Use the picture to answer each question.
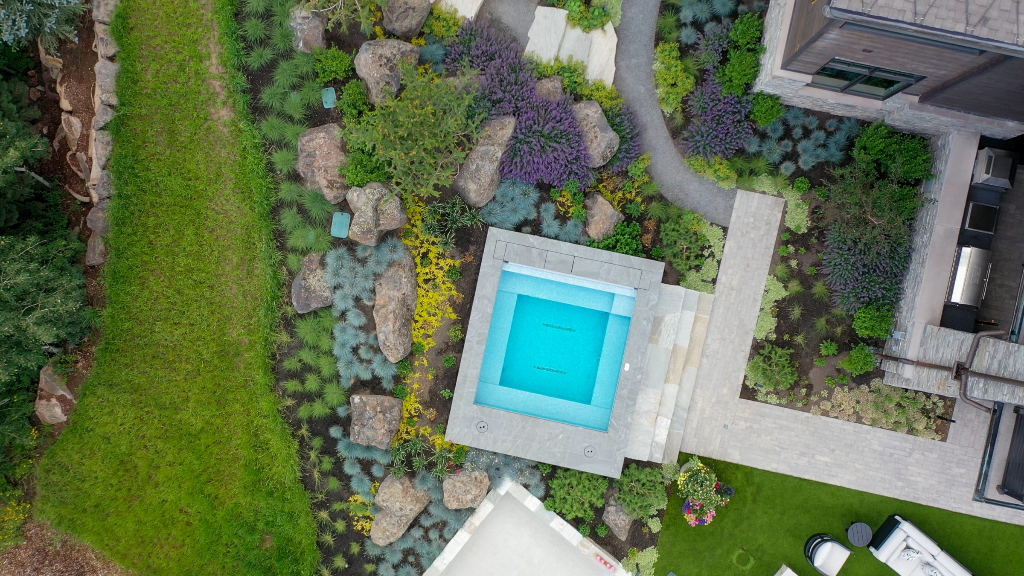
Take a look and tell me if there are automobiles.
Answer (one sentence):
No, there's no automobile here.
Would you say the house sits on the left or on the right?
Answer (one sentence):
The house is on the right side of the image.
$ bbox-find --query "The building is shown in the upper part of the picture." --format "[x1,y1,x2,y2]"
[755,0,1024,151]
